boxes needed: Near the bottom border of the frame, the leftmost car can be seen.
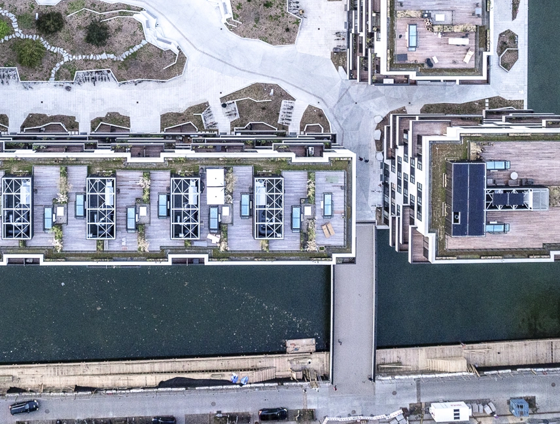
[10,402,37,418]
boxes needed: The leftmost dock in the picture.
[0,349,329,387]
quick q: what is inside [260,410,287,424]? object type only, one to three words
car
